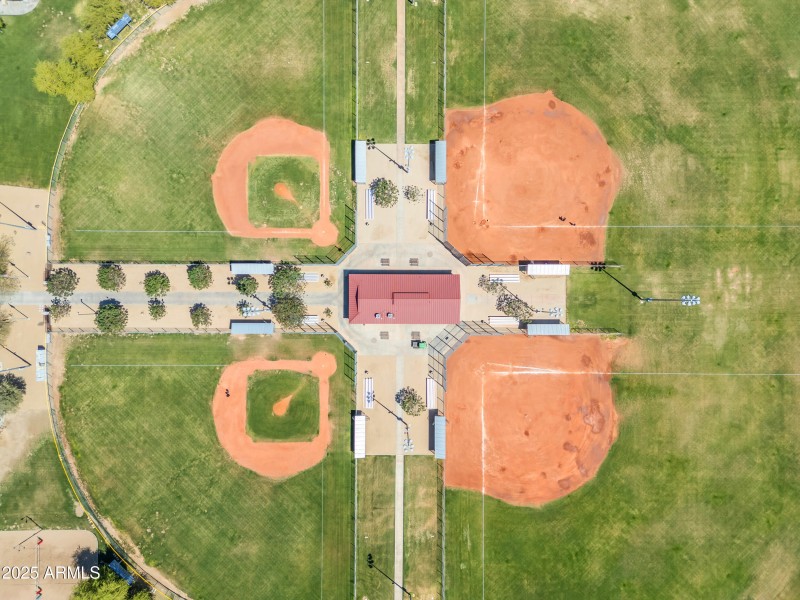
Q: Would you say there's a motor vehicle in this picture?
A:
No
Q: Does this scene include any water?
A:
No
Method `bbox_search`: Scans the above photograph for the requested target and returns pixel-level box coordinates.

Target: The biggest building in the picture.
[348,273,461,324]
